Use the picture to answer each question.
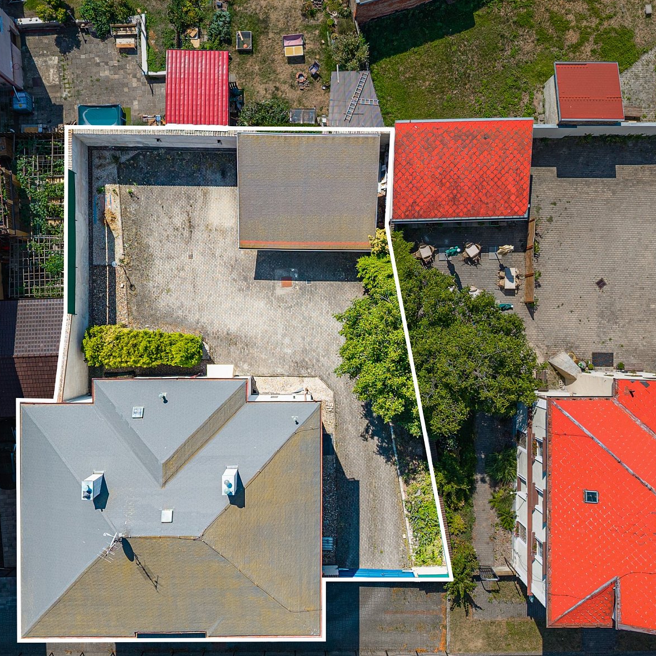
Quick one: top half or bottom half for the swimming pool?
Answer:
top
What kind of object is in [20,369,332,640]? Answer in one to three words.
house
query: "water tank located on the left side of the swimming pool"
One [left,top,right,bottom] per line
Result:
[9,87,31,112]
